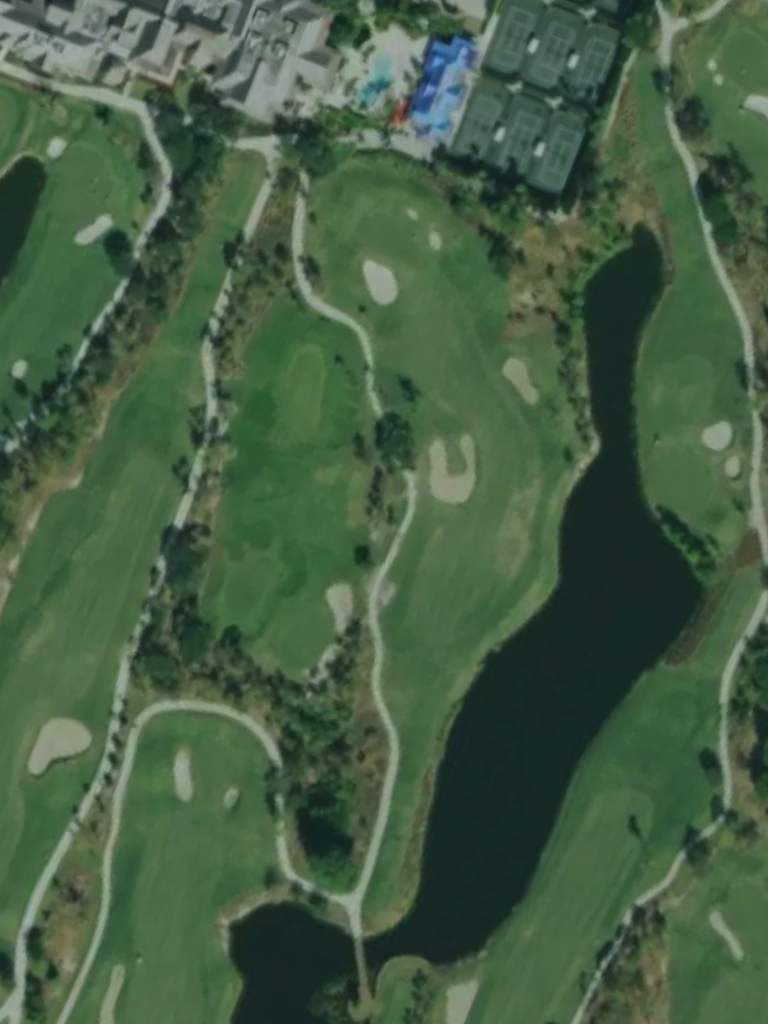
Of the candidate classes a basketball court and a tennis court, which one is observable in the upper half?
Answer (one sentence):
What appears in the upper half is a tennis court.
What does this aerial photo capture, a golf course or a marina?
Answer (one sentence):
The picture captures a golf course.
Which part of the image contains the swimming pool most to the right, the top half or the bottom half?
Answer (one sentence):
The top half of the photo is where the swimming pool most to the right is.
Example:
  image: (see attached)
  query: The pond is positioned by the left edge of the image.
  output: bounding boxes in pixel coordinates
[0,155,47,283]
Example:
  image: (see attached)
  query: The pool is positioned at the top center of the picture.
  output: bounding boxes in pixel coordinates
[357,52,395,109]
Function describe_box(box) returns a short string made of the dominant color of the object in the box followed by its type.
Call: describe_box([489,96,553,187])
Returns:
green tennis court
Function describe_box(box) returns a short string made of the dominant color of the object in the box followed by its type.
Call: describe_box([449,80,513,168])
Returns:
green tennis court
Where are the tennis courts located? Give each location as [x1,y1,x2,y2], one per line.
[449,80,513,168]
[561,22,624,115]
[480,0,546,85]
[527,111,593,203]
[560,0,594,12]
[521,7,586,99]
[489,96,553,187]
